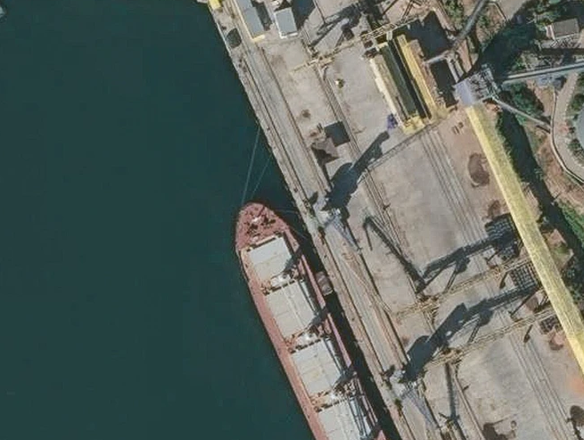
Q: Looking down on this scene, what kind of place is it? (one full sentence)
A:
The area seen from above is a port.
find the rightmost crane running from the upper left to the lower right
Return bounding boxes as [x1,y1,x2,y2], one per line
[379,360,440,430]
